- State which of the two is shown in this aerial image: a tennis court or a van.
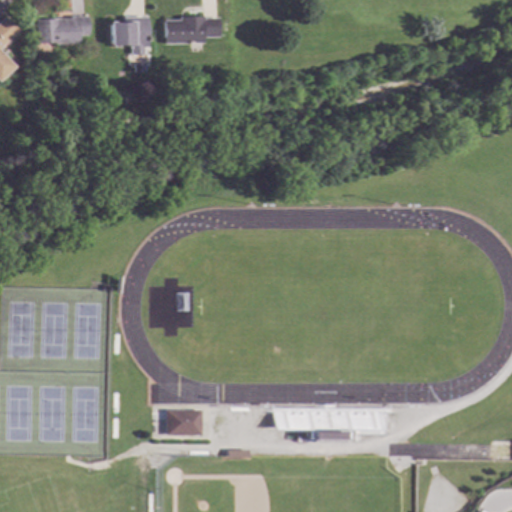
tennis court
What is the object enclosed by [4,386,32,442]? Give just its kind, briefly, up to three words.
tennis court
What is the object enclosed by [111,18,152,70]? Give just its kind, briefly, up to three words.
house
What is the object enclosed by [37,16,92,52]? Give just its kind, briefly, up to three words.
house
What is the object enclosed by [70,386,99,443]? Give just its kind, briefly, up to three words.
tennis court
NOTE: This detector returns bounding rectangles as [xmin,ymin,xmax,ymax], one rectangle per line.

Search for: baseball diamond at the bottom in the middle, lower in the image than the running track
[156,458,400,512]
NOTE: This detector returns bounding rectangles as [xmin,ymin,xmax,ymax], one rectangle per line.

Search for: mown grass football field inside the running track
[141,228,505,384]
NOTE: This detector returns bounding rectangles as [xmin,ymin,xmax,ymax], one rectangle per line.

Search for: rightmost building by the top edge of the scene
[154,16,224,51]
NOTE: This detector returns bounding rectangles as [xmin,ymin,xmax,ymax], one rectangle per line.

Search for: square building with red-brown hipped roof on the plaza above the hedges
[166,410,203,435]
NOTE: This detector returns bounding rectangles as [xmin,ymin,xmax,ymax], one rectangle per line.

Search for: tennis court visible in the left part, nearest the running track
[72,302,102,360]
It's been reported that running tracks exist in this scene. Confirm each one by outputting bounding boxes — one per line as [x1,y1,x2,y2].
[120,206,512,406]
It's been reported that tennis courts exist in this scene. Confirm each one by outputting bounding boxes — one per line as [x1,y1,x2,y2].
[72,302,102,360]
[70,386,99,443]
[37,386,66,443]
[6,302,35,358]
[39,302,68,359]
[4,386,32,442]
